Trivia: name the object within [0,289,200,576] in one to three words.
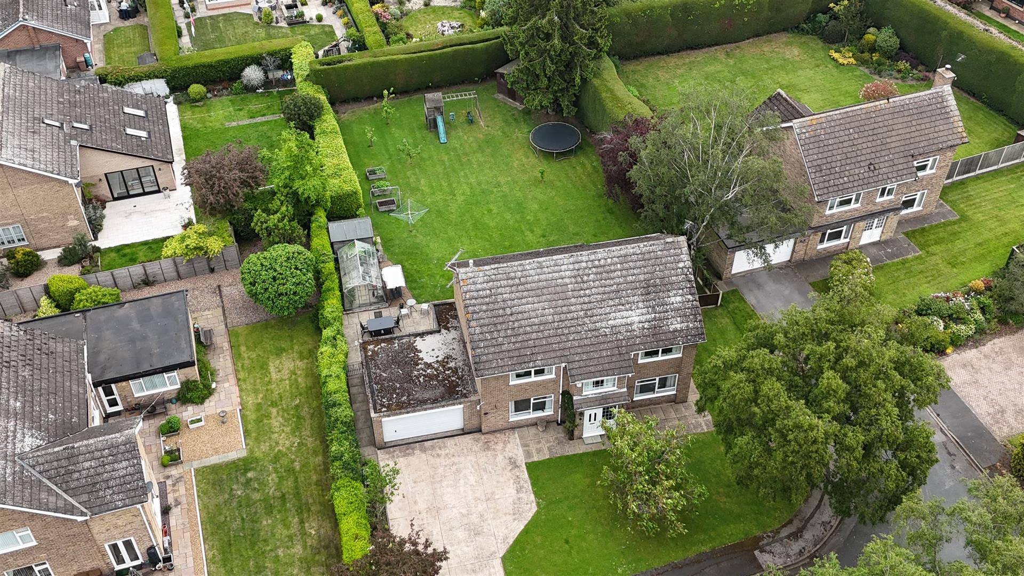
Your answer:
house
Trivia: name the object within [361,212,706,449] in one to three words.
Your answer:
house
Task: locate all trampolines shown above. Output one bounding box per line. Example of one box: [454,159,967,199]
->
[529,122,582,164]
